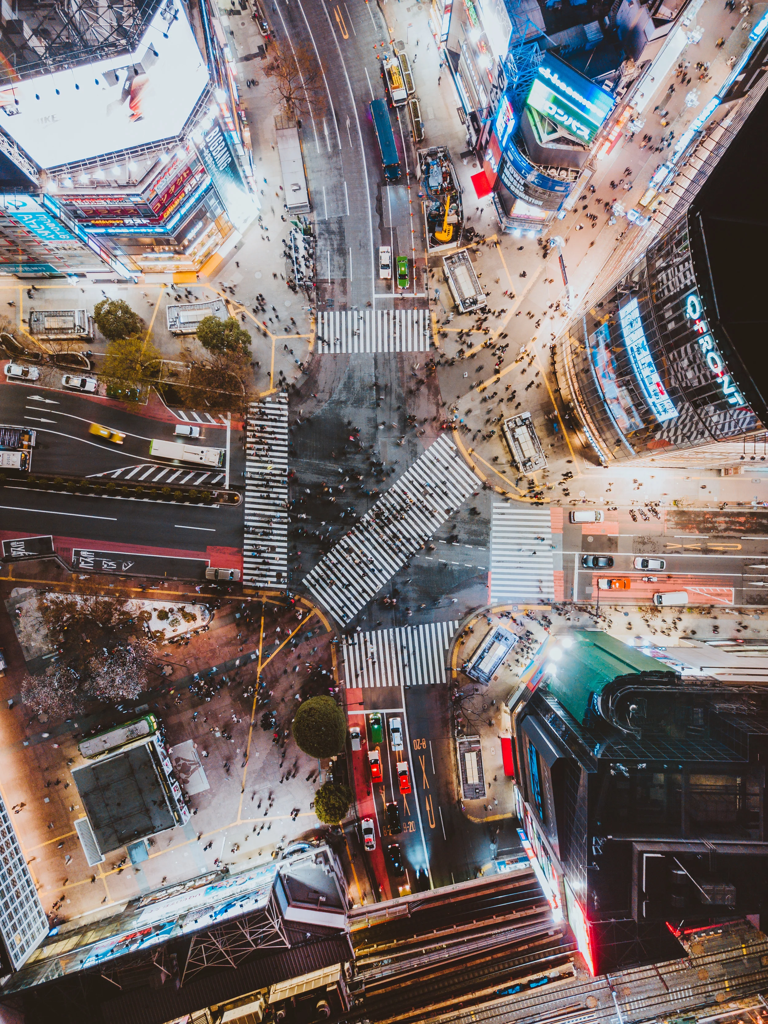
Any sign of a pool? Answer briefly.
No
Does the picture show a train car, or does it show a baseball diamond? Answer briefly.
train car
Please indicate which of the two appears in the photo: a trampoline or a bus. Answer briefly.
bus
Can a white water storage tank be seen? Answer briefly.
No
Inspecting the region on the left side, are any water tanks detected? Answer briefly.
No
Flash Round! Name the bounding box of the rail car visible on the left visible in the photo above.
[79,711,162,757]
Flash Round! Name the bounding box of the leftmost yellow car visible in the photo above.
[91,424,125,443]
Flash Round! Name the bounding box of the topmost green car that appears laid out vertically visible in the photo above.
[396,257,410,290]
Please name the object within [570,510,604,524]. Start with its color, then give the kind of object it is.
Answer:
white vehicle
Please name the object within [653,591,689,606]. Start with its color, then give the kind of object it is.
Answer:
white vehicle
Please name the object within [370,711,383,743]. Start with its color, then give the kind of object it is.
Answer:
green vehicle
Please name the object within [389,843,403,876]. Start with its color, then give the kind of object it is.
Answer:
black car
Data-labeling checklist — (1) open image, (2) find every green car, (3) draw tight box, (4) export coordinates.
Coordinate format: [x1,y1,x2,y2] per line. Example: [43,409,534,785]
[370,711,383,743]
[396,257,410,290]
